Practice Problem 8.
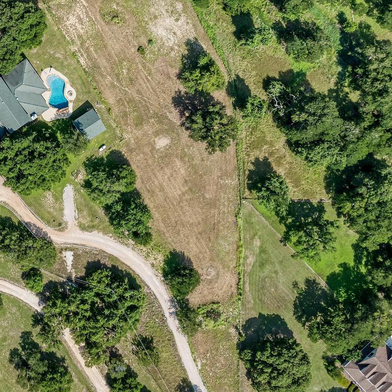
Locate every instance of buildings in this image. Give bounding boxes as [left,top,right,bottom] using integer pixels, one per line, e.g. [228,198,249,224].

[73,108,106,142]
[0,57,50,139]
[343,342,392,392]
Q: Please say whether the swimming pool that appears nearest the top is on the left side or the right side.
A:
left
